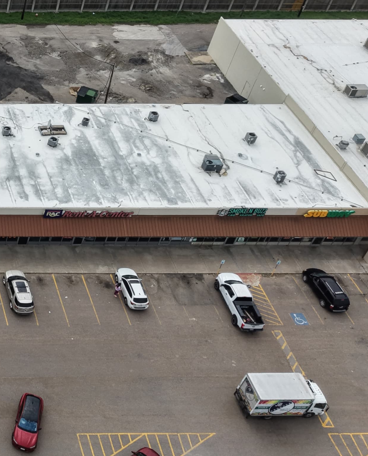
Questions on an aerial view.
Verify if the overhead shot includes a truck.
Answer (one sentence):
Yes, this view includes a truck.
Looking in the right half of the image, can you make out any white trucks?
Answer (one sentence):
Yes, in the right half of the image there is a white truck.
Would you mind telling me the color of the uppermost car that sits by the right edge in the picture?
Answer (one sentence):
From above, the uppermost car that sits by the right edge appears black.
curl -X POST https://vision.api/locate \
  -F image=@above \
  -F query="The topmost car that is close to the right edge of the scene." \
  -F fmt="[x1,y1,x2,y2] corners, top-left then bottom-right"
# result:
[299,271,354,316]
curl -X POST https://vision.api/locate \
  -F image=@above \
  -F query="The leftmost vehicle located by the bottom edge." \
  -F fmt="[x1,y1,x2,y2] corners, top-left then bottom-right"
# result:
[11,394,45,454]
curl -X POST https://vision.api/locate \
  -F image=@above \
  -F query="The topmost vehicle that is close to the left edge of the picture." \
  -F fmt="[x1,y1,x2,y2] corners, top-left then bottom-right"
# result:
[3,272,38,317]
